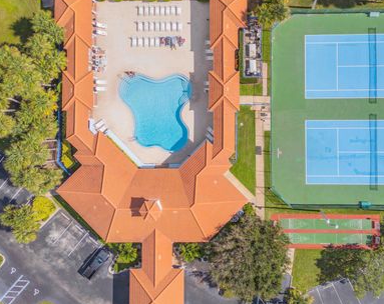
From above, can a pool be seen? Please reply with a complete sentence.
Yes, I can see a pool in this picture.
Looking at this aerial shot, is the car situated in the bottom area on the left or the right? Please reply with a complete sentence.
The car situated in the bottom area sits on the left side.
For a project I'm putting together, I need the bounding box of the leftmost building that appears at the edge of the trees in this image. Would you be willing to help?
[55,0,250,304]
